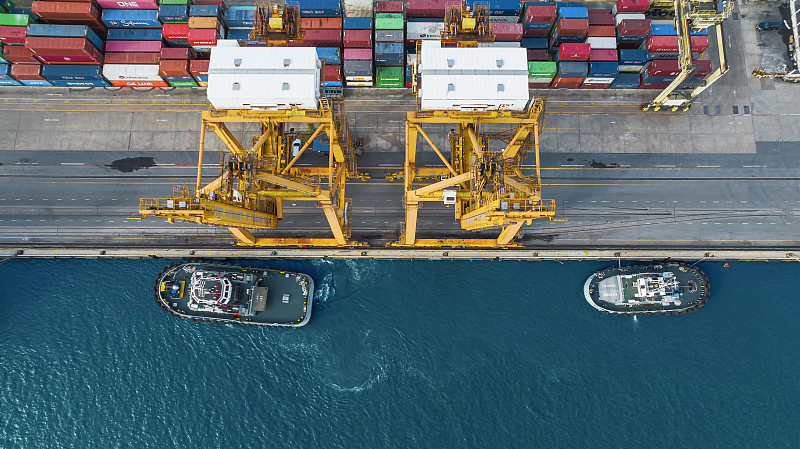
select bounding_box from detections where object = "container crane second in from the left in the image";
[384,0,570,248]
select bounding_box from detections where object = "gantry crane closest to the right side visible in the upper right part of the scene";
[641,0,739,109]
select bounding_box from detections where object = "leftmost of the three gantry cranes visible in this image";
[127,0,369,248]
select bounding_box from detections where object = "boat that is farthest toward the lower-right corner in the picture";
[584,261,712,318]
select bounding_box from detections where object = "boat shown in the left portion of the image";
[153,259,315,330]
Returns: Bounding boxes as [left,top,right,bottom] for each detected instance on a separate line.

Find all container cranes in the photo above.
[641,0,739,109]
[384,0,570,248]
[127,0,369,248]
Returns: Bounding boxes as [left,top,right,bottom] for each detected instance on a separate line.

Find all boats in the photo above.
[153,259,315,330]
[584,261,712,318]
